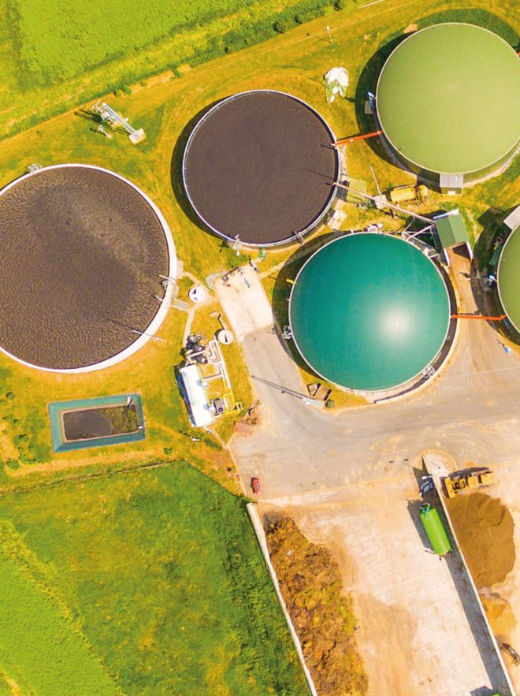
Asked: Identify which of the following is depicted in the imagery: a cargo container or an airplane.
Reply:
cargo container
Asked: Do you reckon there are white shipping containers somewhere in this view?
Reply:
Yes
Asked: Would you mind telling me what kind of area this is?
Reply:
industrial area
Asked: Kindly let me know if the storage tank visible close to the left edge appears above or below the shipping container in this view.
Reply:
above it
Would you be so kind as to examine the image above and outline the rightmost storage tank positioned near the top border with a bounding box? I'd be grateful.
[366,24,520,186]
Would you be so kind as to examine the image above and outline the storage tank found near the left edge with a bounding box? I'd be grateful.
[0,162,202,371]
